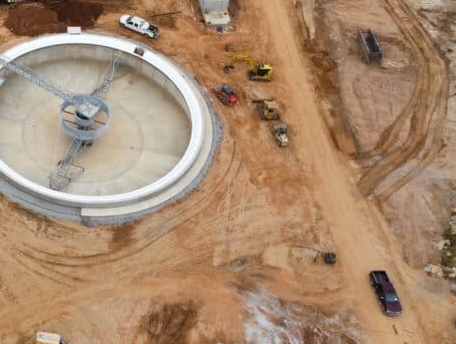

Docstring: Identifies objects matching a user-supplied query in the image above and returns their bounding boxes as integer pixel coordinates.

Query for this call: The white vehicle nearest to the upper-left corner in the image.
[118,15,162,39]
